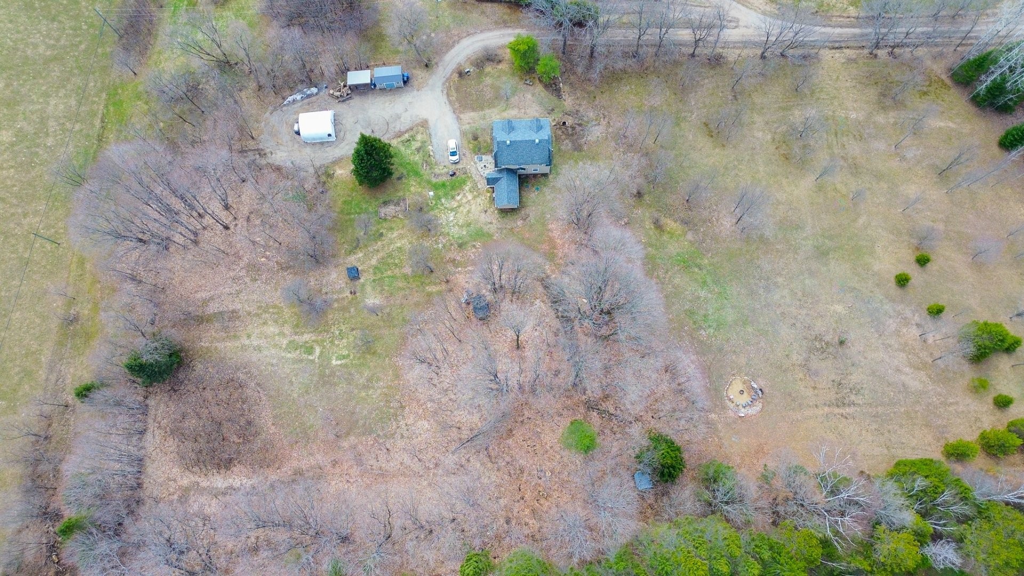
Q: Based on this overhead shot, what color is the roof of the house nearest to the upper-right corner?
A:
blue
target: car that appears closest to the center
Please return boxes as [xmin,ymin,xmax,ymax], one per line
[448,139,460,164]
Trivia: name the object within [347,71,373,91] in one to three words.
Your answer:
shed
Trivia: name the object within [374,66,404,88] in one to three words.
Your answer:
shed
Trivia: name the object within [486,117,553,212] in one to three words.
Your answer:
house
